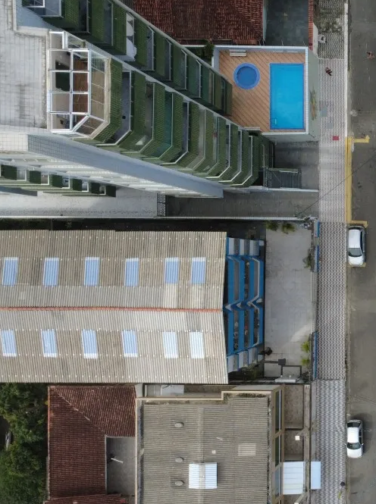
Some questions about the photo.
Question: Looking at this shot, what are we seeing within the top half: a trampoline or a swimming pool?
swimming pool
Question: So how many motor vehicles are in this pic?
2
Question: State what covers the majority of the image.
buildings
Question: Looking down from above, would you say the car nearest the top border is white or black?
white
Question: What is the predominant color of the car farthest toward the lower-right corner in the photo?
white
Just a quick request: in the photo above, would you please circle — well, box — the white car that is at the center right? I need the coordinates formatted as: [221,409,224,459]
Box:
[344,225,368,267]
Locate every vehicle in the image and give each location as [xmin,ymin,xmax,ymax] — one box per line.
[344,419,366,459]
[344,225,368,267]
